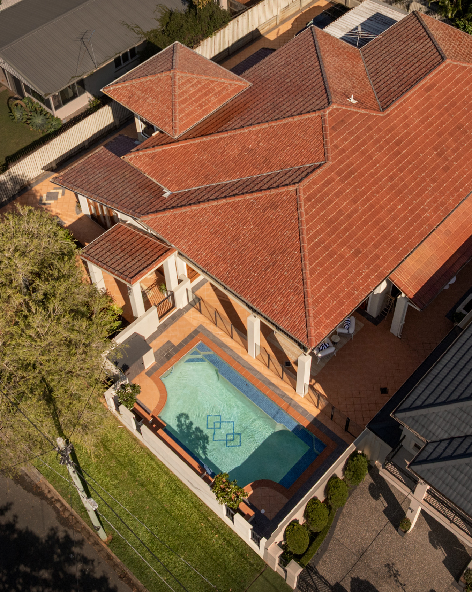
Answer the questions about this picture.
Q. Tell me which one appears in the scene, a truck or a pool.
pool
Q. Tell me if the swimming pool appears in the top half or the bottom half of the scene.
bottom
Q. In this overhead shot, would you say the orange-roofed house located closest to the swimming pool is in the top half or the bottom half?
top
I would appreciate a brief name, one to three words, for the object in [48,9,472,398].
house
